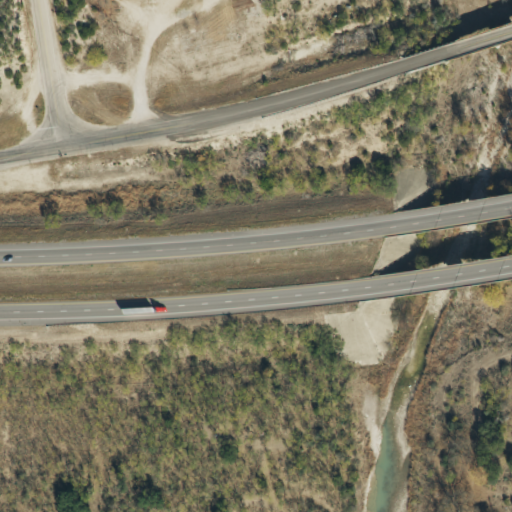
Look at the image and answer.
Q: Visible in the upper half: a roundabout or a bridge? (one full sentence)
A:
Visible in the upper half is a bridge.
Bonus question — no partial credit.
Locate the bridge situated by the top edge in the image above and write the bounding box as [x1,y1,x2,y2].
[405,21,512,72]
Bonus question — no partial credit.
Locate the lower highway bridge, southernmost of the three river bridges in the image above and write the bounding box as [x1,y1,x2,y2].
[366,254,512,301]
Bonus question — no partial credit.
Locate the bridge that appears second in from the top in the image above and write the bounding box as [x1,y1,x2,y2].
[389,193,512,238]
